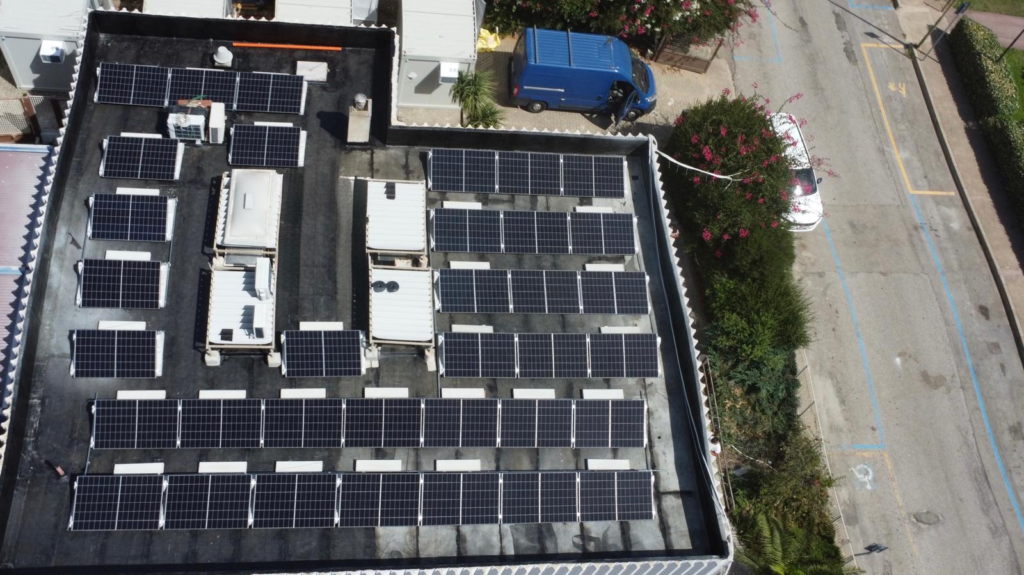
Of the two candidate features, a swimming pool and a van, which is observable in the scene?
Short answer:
van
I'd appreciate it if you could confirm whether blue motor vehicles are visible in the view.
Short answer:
Yes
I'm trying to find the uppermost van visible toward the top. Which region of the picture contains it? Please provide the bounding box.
[507,16,659,130]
